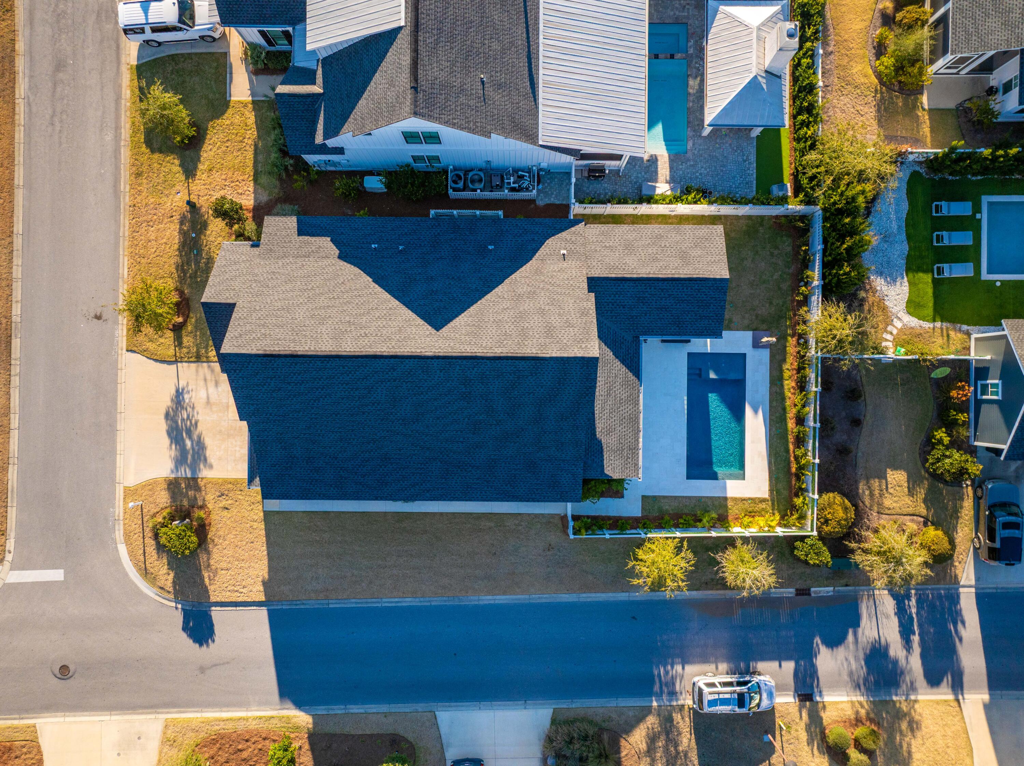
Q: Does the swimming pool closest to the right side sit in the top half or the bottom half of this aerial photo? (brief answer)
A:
top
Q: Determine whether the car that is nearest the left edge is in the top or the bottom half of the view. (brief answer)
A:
top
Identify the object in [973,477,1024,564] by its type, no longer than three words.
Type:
car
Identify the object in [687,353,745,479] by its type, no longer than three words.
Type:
swimming pool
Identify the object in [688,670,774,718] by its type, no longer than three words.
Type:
car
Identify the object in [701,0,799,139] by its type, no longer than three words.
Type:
building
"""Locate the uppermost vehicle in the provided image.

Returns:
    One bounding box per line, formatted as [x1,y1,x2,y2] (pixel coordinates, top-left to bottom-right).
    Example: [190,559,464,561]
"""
[117,0,229,47]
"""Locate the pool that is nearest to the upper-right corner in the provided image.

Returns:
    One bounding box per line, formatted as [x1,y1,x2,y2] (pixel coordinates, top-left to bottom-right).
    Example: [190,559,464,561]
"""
[988,201,1024,274]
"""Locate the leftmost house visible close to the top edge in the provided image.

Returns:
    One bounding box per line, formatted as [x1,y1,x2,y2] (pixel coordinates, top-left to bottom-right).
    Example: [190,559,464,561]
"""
[216,0,649,175]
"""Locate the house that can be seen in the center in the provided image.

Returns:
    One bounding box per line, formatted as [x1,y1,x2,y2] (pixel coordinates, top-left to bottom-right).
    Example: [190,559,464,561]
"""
[201,215,729,500]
